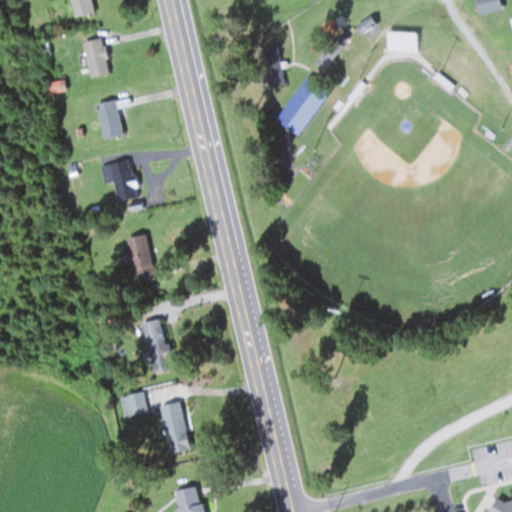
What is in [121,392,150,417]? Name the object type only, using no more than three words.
building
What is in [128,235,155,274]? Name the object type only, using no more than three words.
house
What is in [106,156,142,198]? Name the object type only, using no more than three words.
house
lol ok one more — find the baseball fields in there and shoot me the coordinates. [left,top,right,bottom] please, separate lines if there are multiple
[280,60,512,327]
